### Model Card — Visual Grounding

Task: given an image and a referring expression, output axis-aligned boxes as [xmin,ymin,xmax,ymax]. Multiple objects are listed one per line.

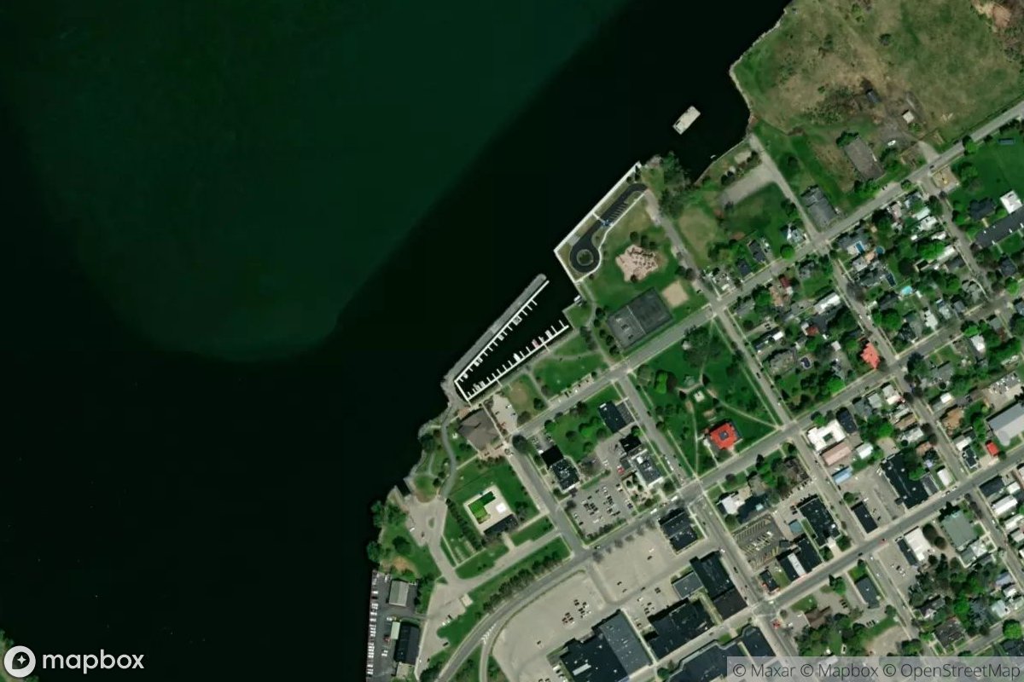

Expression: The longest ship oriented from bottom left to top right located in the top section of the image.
[674,107,699,133]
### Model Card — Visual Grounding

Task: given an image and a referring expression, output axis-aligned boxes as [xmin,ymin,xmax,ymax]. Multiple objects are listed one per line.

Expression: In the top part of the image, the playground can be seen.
[616,244,658,282]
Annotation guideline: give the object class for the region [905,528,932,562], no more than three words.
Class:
building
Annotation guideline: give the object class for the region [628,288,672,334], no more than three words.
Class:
tennis court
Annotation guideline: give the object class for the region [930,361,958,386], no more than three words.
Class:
house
